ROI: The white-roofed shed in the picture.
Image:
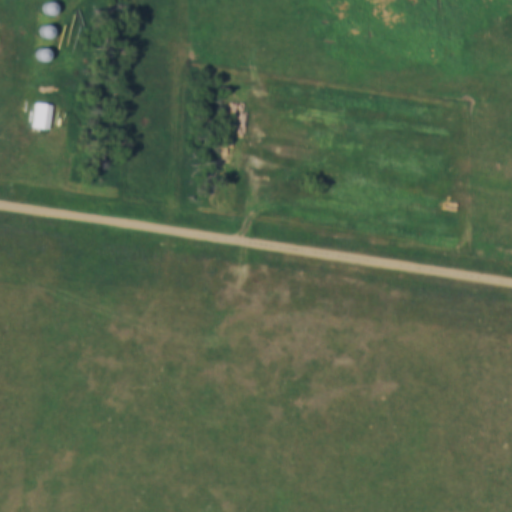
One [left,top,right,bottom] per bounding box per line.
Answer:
[32,102,53,130]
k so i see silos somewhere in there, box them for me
[42,0,60,16]
[36,48,54,64]
[39,24,57,40]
